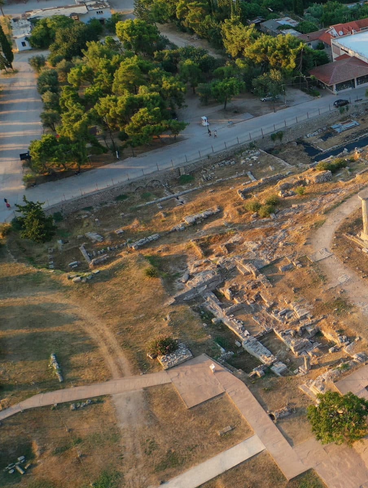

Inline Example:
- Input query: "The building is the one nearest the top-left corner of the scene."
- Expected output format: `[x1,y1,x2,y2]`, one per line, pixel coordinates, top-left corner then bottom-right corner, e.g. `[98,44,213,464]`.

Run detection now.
[10,16,35,50]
